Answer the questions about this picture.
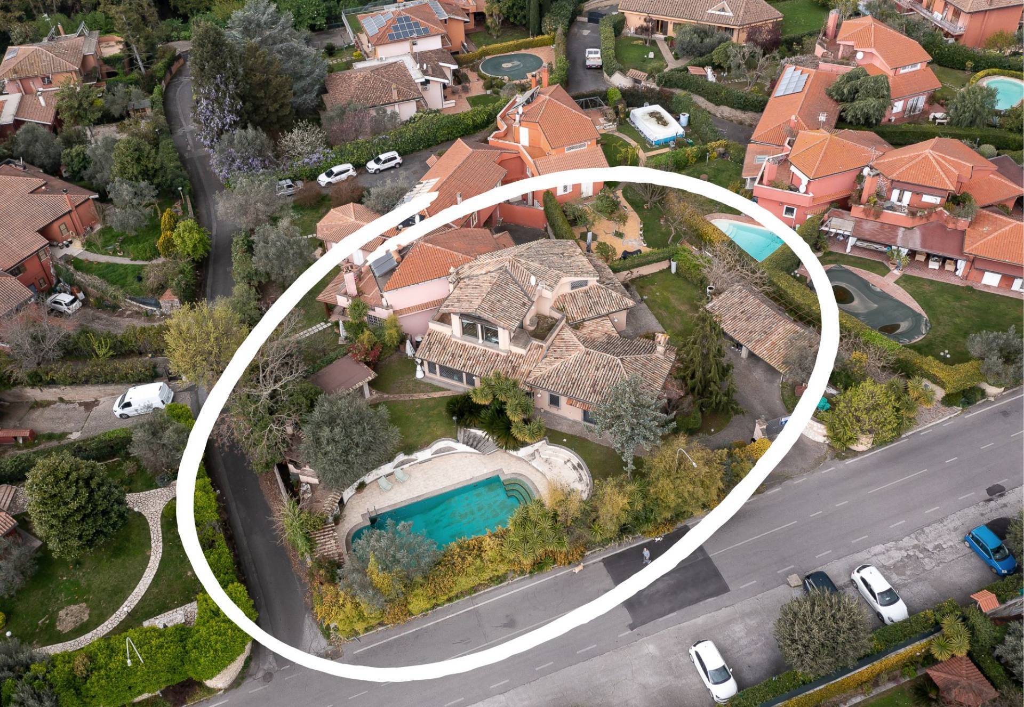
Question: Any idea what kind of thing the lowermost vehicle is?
car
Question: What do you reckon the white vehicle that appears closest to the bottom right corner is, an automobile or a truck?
automobile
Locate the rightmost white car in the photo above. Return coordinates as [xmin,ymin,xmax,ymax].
[849,563,912,622]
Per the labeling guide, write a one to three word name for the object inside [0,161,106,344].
house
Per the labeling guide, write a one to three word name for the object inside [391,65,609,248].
house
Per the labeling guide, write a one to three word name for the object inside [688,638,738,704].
car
